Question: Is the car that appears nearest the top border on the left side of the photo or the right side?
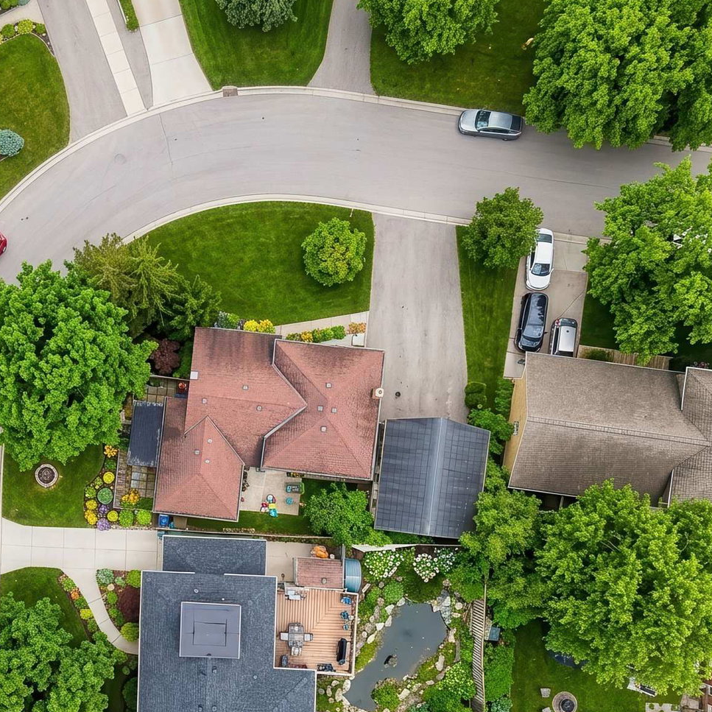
right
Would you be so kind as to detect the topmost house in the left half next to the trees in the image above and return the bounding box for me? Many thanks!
[153,327,386,523]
